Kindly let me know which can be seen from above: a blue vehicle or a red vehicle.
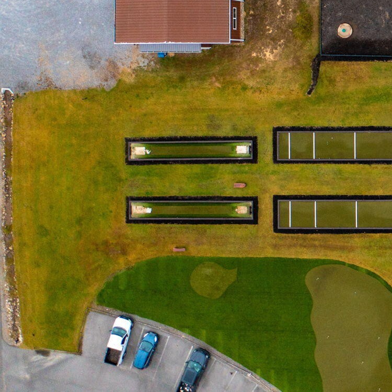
blue vehicle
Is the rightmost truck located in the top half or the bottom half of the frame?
bottom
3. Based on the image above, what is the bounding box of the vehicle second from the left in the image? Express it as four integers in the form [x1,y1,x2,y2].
[133,328,162,370]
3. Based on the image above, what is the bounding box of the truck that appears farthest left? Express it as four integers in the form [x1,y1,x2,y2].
[102,312,137,367]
